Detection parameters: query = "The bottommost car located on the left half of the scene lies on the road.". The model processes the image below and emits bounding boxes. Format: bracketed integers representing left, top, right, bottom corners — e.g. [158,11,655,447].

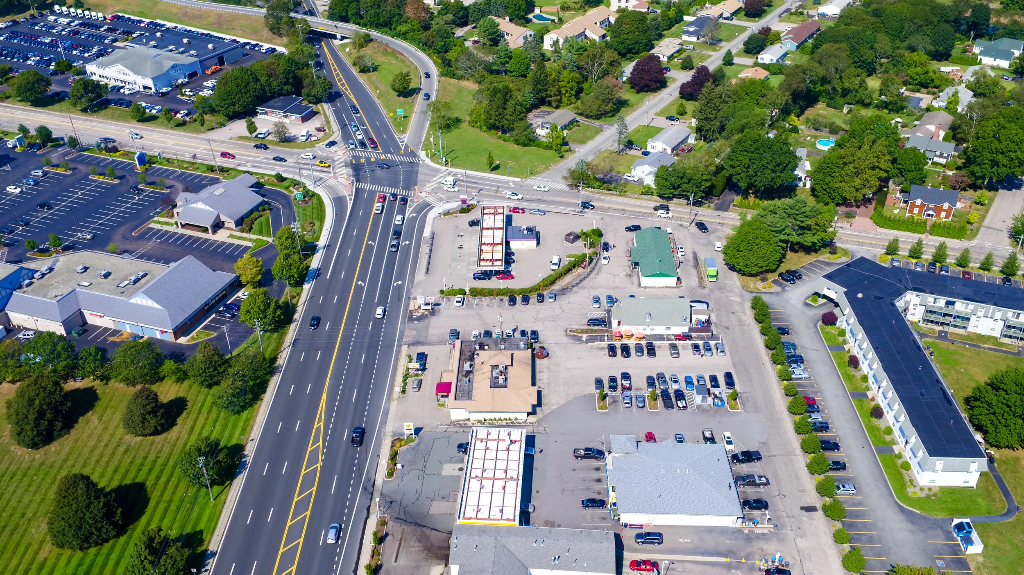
[327,524,341,547]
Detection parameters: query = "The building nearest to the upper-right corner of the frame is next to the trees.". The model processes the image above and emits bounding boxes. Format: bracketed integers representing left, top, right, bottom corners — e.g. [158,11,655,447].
[973,41,1024,72]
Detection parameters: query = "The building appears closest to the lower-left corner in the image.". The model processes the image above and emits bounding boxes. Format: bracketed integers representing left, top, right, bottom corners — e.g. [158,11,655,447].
[0,248,238,344]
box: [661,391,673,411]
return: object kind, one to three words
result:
vehicle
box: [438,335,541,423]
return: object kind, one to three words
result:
building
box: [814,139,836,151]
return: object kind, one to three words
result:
swimming pool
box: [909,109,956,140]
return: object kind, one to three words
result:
house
